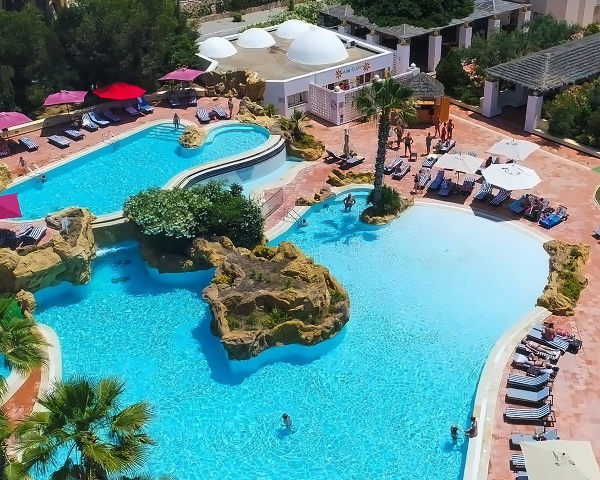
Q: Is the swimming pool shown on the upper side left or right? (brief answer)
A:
left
